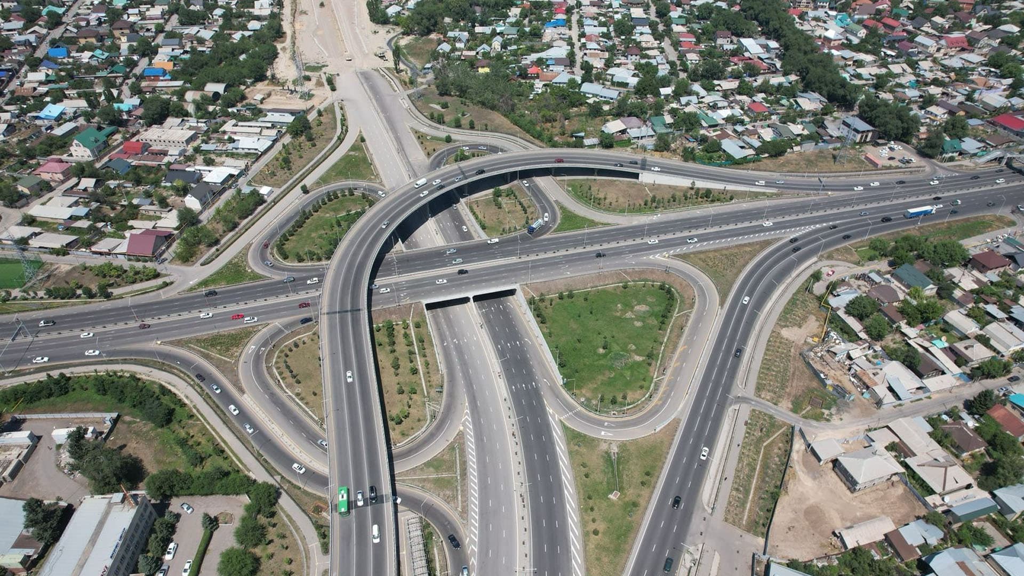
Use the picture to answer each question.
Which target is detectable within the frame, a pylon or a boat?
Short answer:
pylon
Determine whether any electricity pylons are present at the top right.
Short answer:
Yes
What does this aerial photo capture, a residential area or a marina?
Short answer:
residential area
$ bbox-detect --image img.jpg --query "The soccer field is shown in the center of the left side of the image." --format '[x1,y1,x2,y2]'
[0,250,43,289]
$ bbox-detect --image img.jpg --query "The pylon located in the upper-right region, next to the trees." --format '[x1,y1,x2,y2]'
[829,101,864,167]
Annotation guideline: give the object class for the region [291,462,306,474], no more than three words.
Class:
vehicle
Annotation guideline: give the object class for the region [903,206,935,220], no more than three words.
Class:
vehicle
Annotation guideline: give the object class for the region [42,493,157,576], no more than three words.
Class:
building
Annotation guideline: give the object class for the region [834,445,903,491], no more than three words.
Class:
house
